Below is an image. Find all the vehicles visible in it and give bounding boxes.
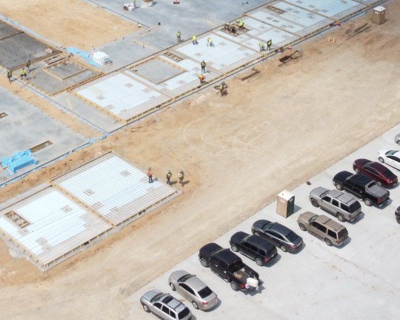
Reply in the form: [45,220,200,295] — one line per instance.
[196,242,266,292]
[331,169,394,207]
[372,146,400,168]
[247,215,305,253]
[305,186,365,223]
[225,229,284,268]
[347,156,400,187]
[293,209,352,247]
[138,286,195,320]
[164,266,222,310]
